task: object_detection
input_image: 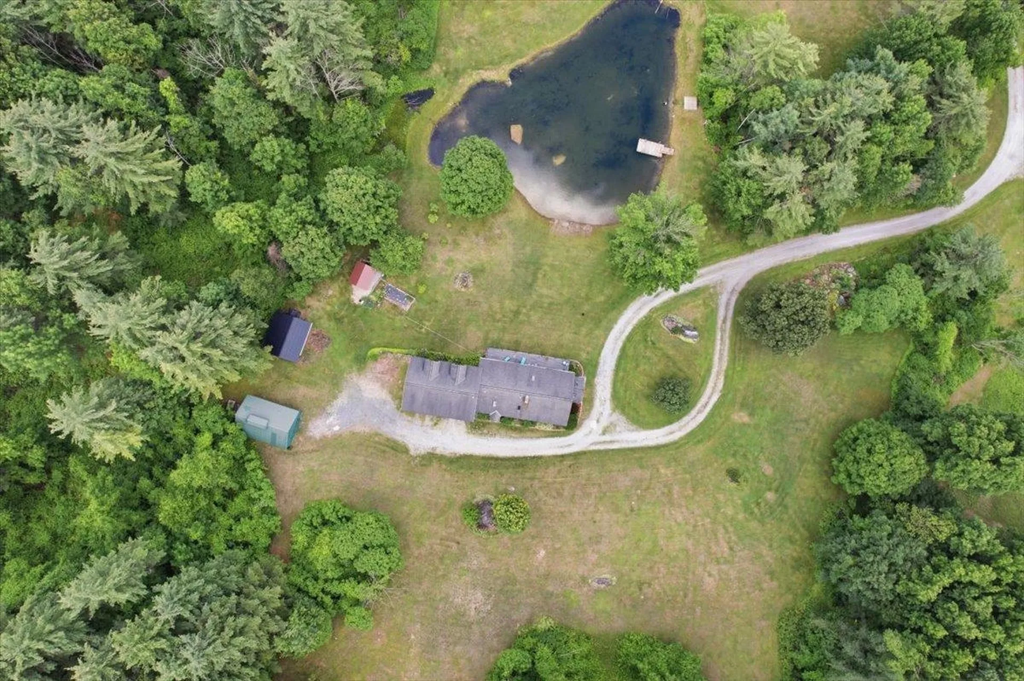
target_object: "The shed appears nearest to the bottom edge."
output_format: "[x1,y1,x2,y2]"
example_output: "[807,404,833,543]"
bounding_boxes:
[236,394,303,449]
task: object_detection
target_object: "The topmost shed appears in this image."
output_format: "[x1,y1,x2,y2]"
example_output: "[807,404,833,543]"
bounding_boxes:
[349,262,382,291]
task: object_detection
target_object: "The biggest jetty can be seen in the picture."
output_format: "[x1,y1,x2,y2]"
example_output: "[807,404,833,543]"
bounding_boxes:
[637,138,665,157]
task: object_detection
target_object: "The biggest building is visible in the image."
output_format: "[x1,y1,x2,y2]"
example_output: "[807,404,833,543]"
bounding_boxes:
[400,347,586,426]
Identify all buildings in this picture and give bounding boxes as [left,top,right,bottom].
[400,347,586,426]
[349,262,382,291]
[265,311,317,362]
[236,394,303,449]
